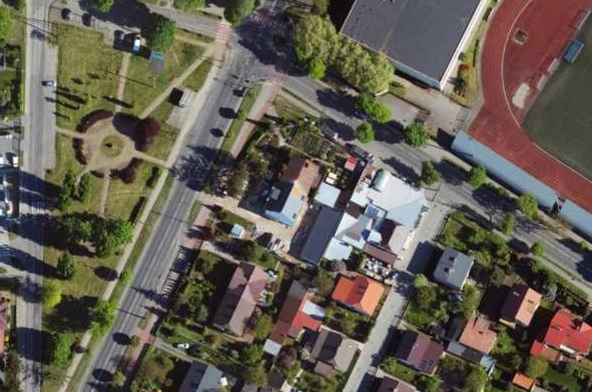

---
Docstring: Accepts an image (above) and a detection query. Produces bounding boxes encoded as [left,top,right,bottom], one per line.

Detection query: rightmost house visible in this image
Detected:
[542,314,592,362]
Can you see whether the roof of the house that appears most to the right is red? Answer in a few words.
Yes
